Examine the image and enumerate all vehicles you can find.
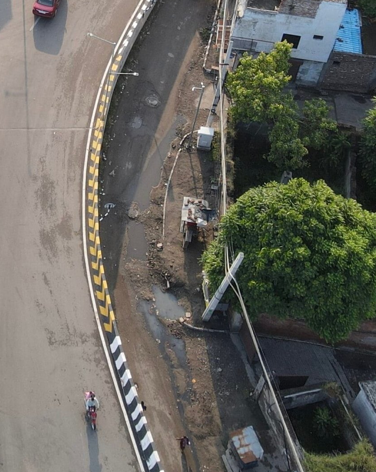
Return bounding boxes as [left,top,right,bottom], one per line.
[87,399,104,430]
[30,0,59,20]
